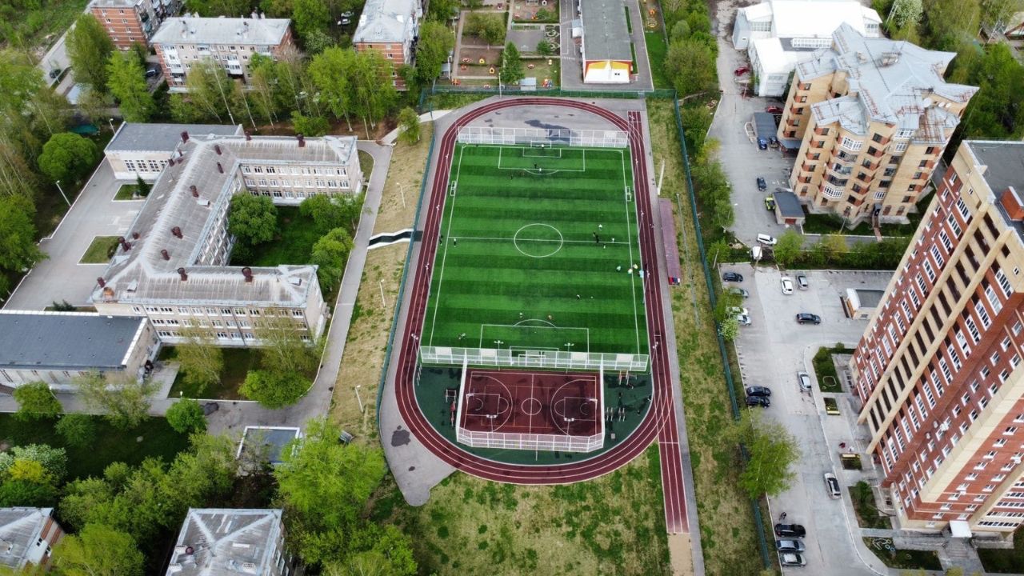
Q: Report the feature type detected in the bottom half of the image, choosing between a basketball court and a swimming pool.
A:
basketball court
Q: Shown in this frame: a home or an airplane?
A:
home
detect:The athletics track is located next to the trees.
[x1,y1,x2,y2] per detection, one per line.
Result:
[398,99,669,483]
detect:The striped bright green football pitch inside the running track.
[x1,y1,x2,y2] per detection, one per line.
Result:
[418,142,650,371]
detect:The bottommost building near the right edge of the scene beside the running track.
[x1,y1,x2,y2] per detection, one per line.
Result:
[842,136,1024,570]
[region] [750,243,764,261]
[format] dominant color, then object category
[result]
white car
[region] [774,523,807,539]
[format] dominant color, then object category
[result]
black car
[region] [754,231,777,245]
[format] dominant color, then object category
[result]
white car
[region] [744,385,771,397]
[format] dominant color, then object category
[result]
black vehicle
